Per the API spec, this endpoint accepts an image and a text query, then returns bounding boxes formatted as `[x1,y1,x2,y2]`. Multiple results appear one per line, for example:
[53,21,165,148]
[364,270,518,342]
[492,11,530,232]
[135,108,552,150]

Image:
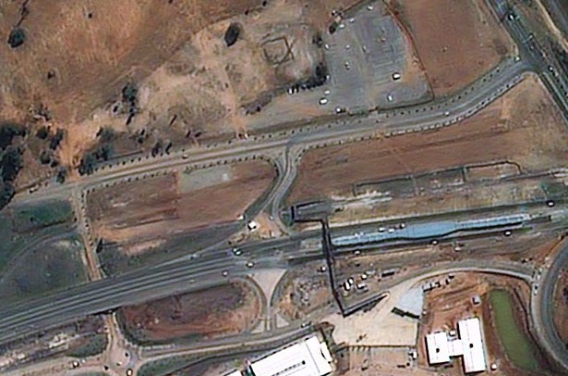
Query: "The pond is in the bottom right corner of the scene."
[493,289,537,370]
